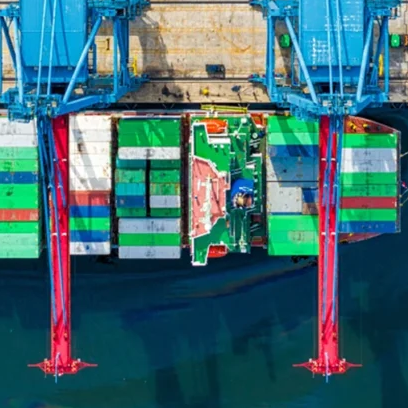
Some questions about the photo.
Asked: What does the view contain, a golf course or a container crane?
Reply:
container crane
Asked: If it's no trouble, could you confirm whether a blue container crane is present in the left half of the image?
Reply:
Yes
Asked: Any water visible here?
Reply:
Yes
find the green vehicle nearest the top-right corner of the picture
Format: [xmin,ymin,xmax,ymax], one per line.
[389,32,408,46]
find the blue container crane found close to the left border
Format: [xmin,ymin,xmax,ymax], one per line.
[0,0,153,383]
